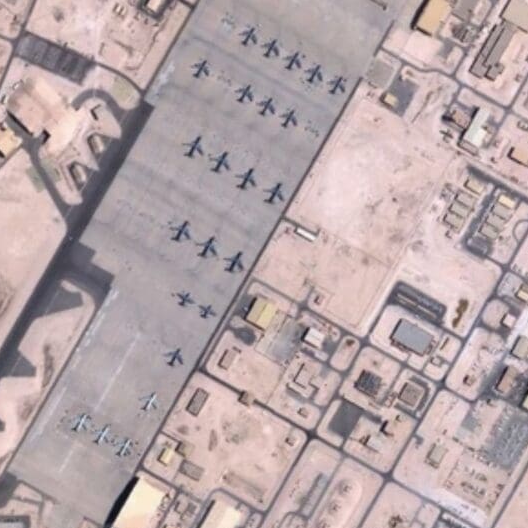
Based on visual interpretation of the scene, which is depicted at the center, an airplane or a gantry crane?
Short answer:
airplane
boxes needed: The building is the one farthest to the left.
[0,124,20,156]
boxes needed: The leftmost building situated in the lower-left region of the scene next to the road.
[112,478,166,528]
